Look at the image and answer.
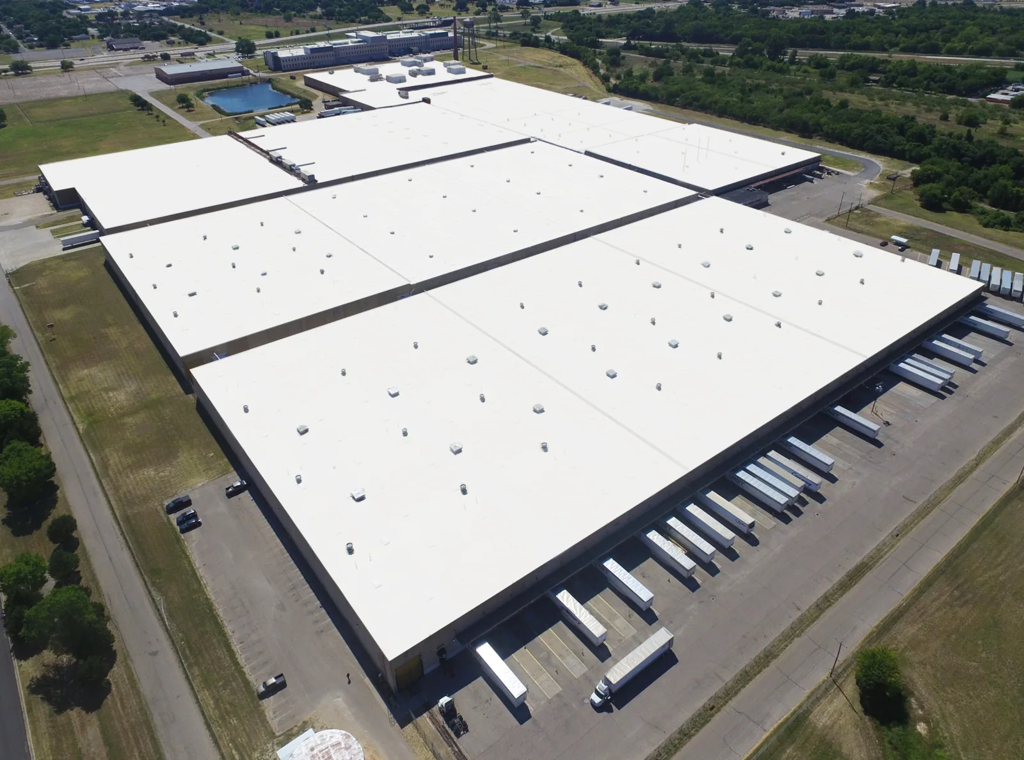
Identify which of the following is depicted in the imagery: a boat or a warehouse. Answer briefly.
warehouse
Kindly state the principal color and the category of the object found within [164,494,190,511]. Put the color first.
black vehicle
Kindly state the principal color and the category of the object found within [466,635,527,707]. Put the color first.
white trailer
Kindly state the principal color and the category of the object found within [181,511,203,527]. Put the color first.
black car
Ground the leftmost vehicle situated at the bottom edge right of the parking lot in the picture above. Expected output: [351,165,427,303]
[433,696,470,734]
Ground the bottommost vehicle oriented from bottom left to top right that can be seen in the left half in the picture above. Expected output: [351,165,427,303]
[255,672,288,699]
